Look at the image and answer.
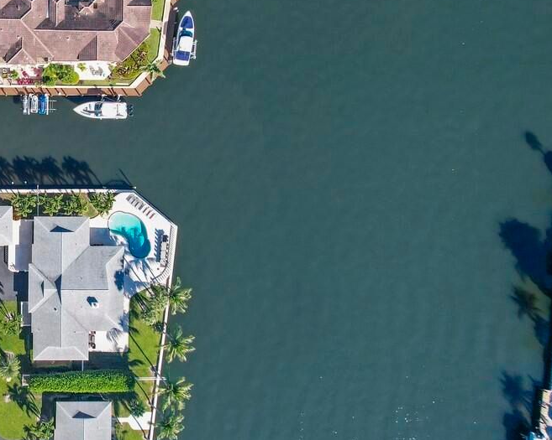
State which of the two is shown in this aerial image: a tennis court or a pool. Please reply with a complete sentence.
Looking from above, you can make out a pool.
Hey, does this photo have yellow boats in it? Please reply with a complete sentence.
No, I can see no yellow boat in this picture.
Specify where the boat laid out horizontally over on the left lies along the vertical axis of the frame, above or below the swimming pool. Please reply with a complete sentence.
Looking at the photo, you'll find the boat laid out horizontally over on the left above the swimming pool.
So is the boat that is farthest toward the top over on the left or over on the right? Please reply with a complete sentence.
The boat that is farthest toward the top appears in the left half of the scene.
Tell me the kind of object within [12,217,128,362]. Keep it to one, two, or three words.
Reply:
house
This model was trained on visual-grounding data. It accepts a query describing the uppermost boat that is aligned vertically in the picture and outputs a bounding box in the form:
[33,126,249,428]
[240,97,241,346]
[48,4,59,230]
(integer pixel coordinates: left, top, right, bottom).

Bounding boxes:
[173,14,192,67]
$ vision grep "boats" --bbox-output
[22,96,29,113]
[31,96,38,113]
[40,97,45,114]
[75,96,133,119]
[173,14,192,67]
[523,421,546,440]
